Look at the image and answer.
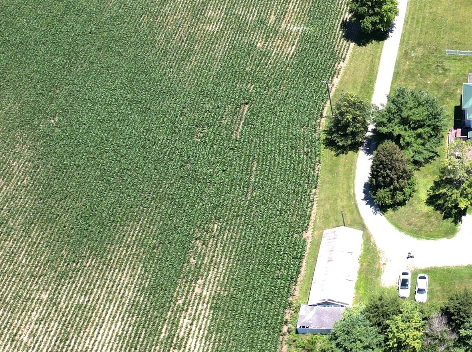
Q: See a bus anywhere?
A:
No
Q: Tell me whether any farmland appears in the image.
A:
Yes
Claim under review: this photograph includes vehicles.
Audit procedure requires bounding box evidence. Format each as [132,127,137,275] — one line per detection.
[413,273,429,305]
[397,268,411,299]
[406,250,416,259]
